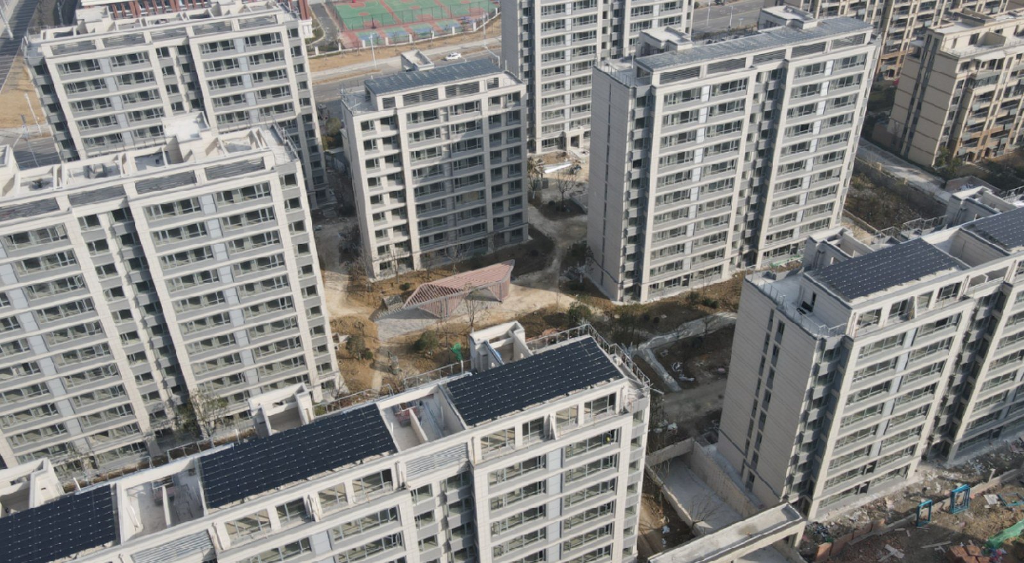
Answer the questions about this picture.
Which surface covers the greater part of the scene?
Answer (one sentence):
The scene is dominated by buildings.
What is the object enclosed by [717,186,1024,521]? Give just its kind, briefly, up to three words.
building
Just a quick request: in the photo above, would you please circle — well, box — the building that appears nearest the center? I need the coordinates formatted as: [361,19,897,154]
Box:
[401,255,514,318]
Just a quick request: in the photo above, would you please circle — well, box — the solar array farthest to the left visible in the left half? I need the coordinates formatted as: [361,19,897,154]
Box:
[0,482,115,563]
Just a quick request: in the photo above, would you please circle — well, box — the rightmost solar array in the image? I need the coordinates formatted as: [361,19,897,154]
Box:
[972,209,1024,249]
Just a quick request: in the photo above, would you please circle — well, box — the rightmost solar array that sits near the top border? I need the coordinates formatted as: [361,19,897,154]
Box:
[627,17,876,72]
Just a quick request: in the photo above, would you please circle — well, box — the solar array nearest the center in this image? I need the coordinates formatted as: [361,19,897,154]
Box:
[445,339,619,424]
